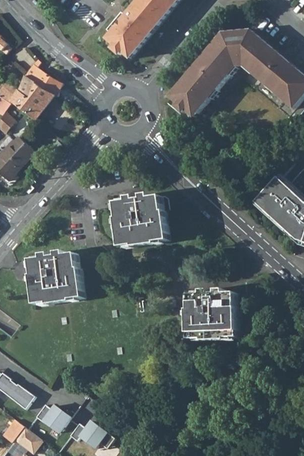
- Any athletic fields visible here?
No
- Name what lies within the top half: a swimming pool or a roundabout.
roundabout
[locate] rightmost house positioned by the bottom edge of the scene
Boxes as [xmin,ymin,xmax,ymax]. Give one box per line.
[78,420,108,449]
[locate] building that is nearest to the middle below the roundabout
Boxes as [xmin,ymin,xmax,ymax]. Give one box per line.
[108,192,170,251]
